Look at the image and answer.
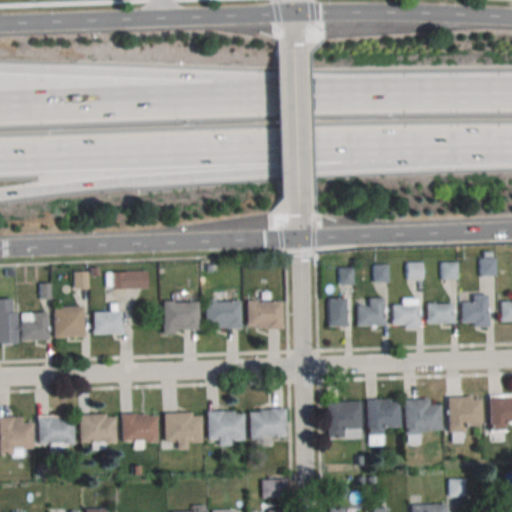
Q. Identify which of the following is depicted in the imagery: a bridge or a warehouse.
bridge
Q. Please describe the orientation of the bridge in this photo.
vertically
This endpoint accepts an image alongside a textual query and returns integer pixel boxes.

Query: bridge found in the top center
[268,20,326,232]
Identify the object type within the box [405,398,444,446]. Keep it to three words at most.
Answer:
house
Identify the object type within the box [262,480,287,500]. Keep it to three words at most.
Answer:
building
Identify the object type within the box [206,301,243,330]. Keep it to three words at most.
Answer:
house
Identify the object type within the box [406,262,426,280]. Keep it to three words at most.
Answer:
building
